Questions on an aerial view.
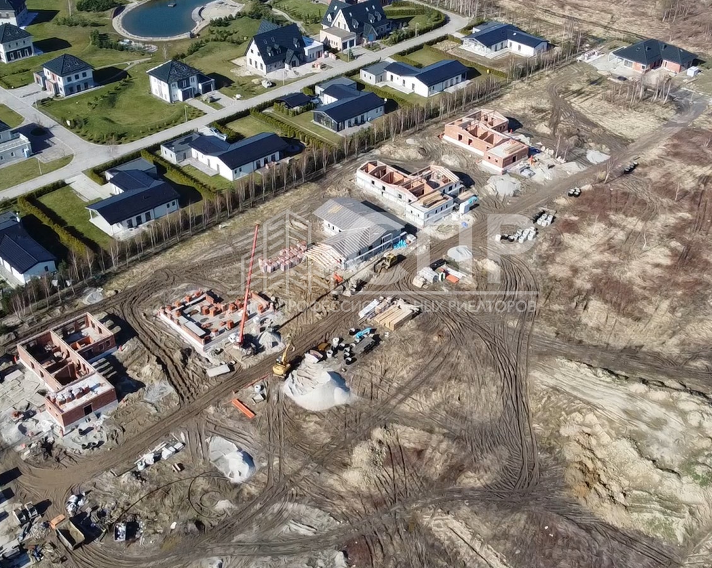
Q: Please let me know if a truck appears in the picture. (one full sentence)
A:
Yes, the photo shows a truck.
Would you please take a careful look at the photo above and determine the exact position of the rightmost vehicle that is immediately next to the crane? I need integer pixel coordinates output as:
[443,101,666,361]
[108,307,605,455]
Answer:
[267,337,300,377]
